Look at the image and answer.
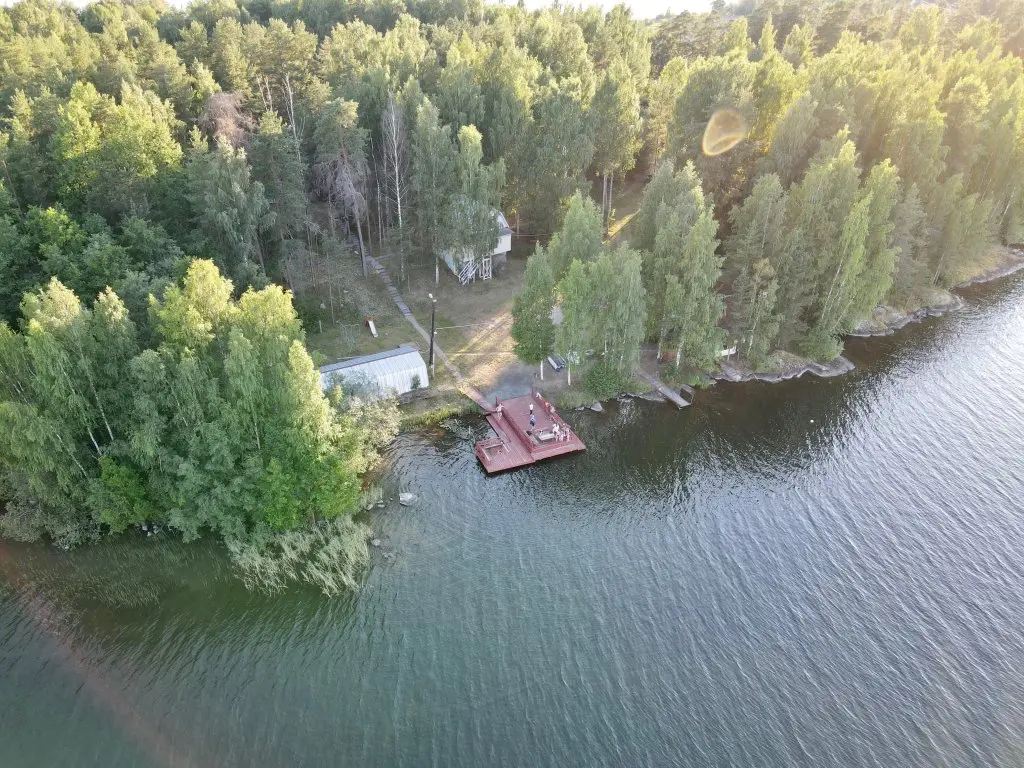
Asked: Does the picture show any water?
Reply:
Yes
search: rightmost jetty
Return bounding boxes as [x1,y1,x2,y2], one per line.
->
[634,368,690,410]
